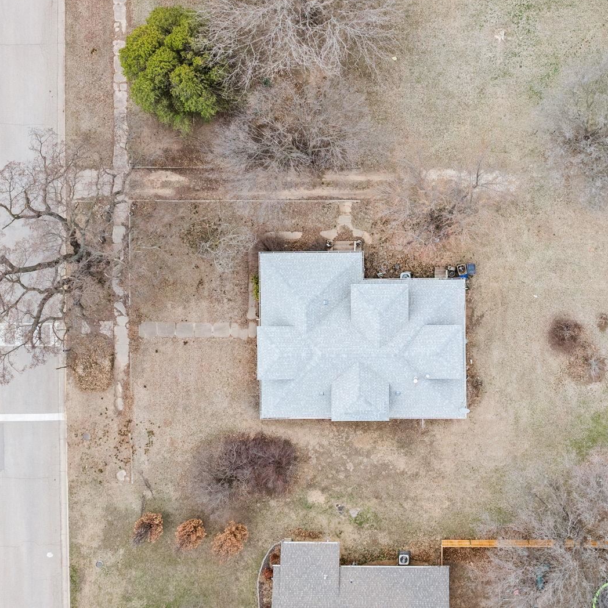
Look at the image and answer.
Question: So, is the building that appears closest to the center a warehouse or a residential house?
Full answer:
What you see as the building that appears closest to the center is a residential house.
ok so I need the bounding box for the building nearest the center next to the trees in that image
[256,252,470,425]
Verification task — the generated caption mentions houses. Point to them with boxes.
[256,252,470,425]
[270,531,449,608]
